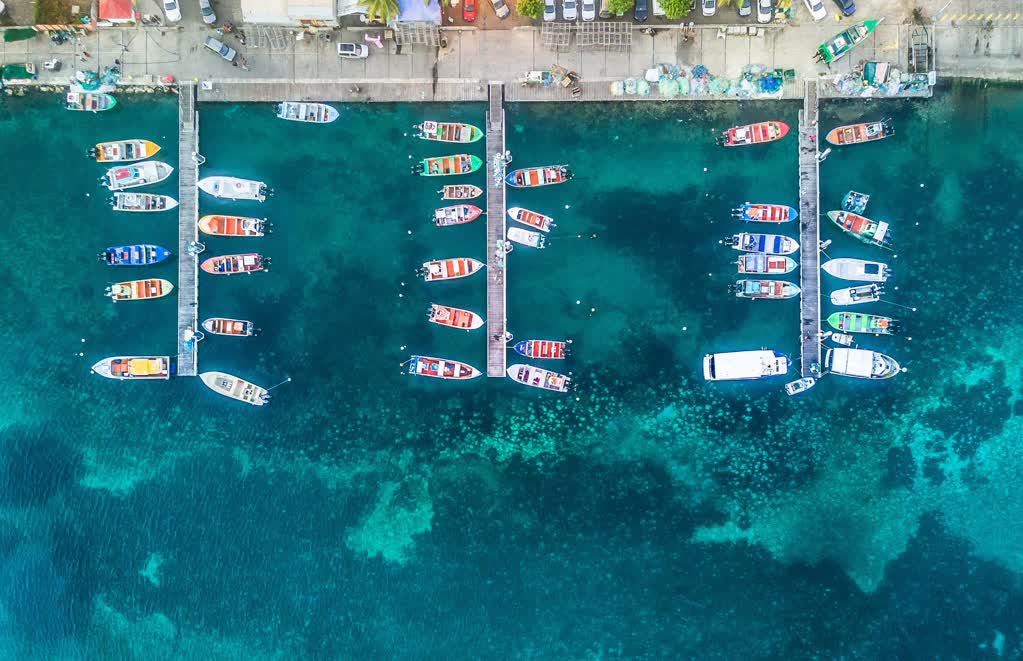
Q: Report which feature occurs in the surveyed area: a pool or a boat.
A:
boat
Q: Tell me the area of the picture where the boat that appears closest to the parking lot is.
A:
top right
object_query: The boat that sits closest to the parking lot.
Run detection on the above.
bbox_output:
[816,17,888,62]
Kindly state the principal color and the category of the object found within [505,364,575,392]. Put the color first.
white boat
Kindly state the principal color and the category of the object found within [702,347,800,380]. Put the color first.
white vessel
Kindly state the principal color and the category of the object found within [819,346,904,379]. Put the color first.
white boat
